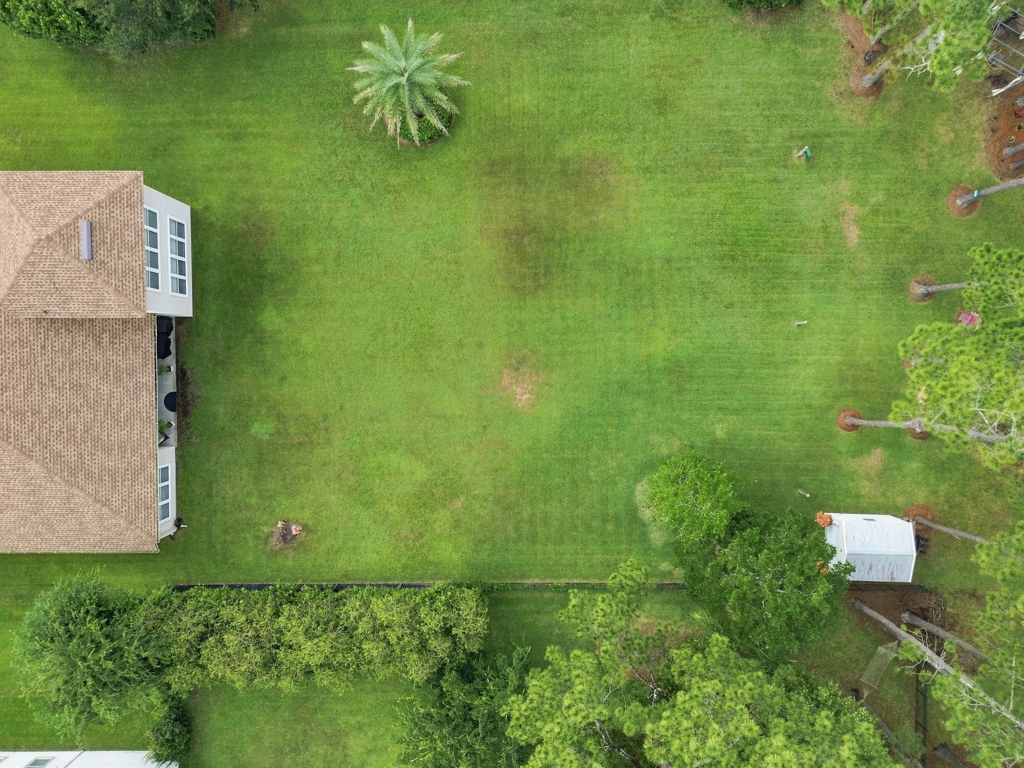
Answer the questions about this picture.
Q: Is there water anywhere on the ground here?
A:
No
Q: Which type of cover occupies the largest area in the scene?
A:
grass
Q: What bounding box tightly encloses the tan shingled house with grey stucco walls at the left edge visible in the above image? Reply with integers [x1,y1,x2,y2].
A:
[0,170,193,553]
